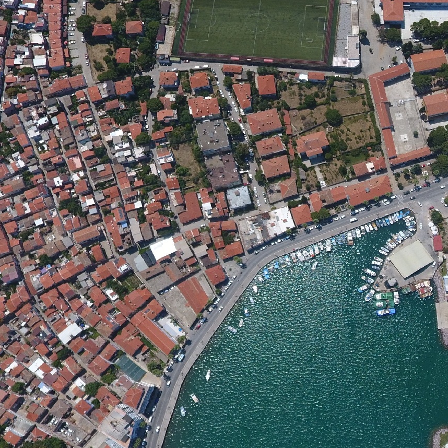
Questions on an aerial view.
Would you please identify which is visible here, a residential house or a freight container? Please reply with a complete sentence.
The image shows a residential house.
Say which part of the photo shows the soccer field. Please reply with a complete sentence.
The soccer field is located in the top region of the scene.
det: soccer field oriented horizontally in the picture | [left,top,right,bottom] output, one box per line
[172,0,338,66]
